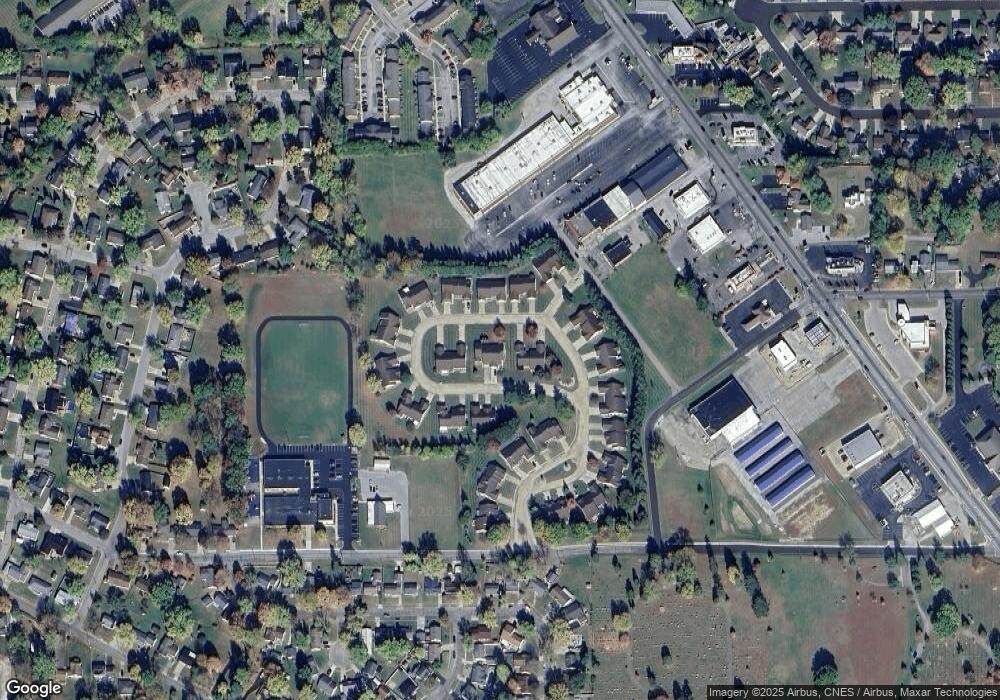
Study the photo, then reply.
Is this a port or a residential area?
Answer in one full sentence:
The area seen from above is a residential area.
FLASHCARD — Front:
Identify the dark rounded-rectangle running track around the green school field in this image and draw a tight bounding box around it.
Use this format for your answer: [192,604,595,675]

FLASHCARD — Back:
[256,315,353,444]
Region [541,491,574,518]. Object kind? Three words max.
house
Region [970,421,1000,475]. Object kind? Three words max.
building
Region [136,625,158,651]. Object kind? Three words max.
house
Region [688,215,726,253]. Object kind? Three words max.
building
